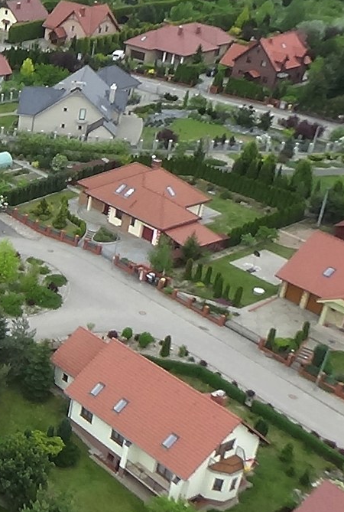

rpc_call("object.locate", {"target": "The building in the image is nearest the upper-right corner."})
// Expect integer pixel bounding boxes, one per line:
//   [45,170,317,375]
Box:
[207,28,306,87]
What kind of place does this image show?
residential area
